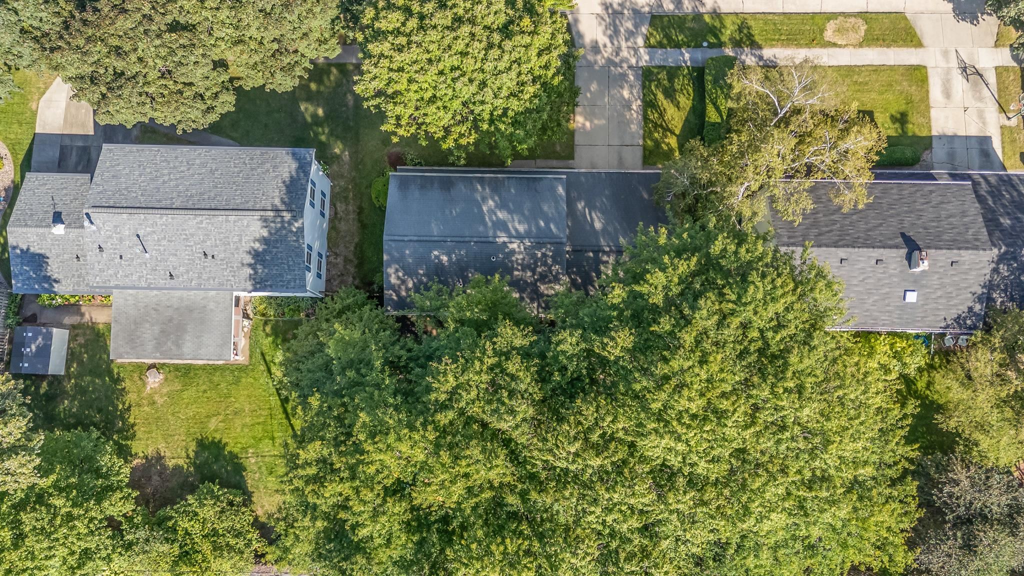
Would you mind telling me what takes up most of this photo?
trees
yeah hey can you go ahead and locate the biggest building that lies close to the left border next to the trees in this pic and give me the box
[7,143,334,362]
